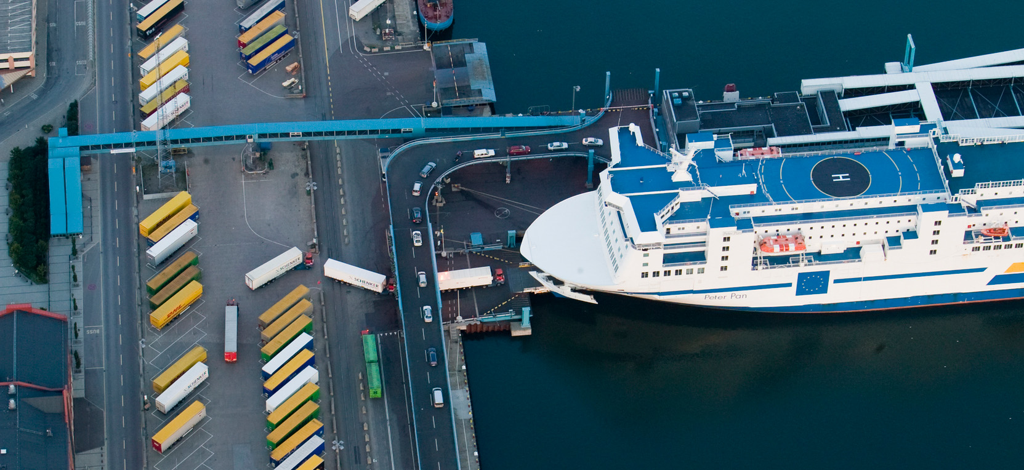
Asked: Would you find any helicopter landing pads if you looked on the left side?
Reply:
No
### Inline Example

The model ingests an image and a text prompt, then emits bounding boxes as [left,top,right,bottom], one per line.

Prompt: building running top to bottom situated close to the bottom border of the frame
[0,299,75,470]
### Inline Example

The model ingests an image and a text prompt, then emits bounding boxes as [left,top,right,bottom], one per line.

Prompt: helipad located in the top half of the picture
[810,156,872,197]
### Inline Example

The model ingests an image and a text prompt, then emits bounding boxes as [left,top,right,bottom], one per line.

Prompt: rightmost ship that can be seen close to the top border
[418,0,454,38]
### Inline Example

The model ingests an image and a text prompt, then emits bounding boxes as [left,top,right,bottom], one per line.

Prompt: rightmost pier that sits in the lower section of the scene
[510,320,532,340]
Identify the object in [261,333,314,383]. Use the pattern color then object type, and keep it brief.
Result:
white trailer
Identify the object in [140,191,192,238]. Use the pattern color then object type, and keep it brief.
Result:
yellow trailer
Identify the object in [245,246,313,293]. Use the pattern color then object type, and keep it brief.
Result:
white truck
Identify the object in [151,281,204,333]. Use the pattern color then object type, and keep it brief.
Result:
yellow trailer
